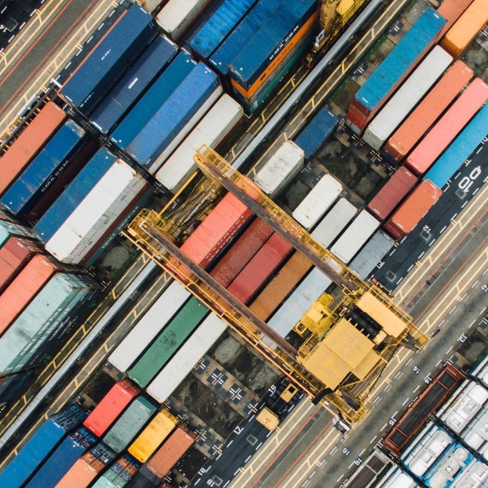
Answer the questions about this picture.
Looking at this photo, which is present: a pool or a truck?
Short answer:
truck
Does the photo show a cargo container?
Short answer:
Yes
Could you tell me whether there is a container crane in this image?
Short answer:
Yes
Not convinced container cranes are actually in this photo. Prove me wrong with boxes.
[302,0,367,66]
[121,137,438,433]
